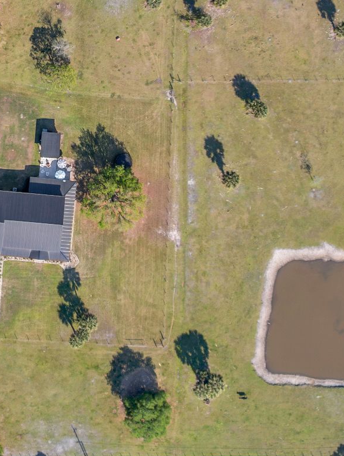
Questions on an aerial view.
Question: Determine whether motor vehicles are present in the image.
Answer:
No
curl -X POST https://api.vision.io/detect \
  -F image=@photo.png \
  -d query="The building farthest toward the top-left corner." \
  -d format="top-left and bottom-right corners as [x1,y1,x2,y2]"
[40,132,61,158]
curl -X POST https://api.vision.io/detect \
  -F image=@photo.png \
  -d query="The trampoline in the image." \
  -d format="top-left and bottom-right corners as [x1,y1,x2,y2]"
[115,152,133,169]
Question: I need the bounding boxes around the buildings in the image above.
[0,177,77,263]
[40,132,61,158]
